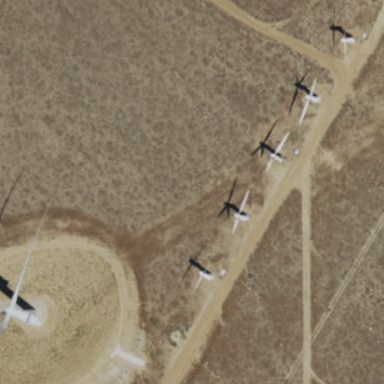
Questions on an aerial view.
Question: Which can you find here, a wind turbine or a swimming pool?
wind turbine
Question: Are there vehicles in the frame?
No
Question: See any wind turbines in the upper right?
Yes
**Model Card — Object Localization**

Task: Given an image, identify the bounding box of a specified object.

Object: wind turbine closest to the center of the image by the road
[230,190,252,234]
